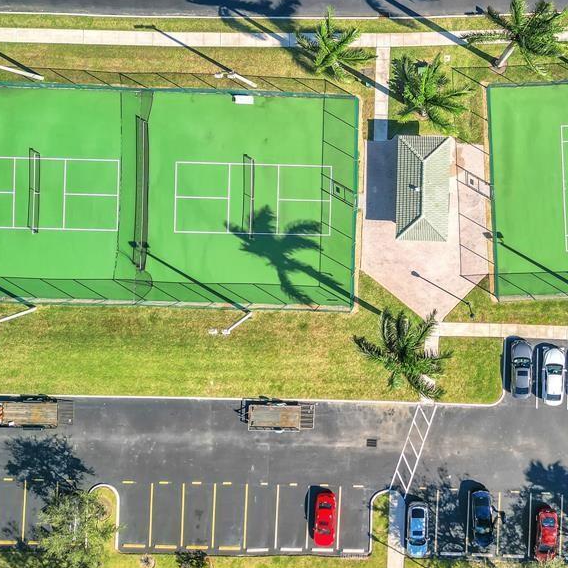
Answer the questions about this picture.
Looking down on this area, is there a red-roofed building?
No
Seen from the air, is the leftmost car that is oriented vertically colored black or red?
red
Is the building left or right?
right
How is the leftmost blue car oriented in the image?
from top to bottom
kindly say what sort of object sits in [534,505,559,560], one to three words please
car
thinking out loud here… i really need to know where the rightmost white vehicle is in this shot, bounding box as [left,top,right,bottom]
[541,347,567,404]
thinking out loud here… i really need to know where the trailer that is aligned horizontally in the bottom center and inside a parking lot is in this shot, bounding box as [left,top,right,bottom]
[233,402,315,434]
